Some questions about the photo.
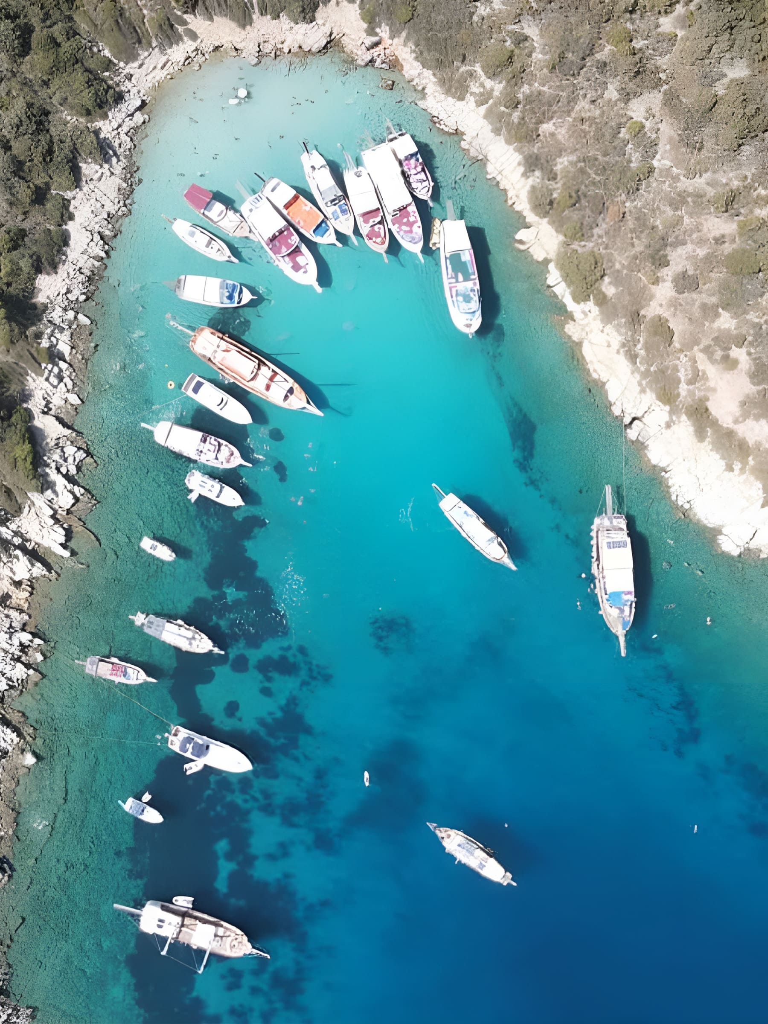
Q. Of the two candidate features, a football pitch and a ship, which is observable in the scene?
ship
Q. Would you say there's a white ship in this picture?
Yes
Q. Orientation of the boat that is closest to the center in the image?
diagonally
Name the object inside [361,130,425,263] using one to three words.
boat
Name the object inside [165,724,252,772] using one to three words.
boat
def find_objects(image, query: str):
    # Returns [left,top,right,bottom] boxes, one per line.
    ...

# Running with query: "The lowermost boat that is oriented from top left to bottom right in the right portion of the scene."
[426,822,517,886]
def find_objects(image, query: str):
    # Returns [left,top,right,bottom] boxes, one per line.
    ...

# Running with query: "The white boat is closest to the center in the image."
[433,484,518,570]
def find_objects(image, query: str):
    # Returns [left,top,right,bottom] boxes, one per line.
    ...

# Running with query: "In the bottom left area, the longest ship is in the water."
[113,898,270,972]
